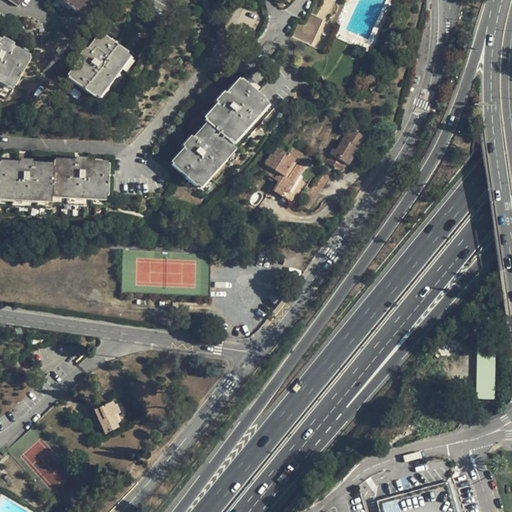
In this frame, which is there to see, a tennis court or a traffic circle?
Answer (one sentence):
Of the two, only a tennis court appears.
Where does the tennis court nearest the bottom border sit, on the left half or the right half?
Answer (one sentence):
You can find the tennis court nearest the bottom border on the left side of the picture.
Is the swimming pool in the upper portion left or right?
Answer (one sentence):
The swimming pool in the upper portion appears in the right half of the scene.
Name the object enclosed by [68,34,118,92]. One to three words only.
building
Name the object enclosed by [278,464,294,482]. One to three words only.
vehicle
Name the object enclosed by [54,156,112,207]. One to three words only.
building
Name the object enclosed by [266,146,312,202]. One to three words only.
house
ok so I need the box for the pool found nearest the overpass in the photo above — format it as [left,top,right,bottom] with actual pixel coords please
[336,0,386,48]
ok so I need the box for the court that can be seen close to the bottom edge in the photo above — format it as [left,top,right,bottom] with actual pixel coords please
[8,426,92,510]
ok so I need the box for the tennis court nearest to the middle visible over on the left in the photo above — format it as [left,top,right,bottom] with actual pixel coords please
[121,248,210,297]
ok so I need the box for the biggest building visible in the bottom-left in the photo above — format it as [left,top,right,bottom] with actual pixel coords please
[94,401,122,434]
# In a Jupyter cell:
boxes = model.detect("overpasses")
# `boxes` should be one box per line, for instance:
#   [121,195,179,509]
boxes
[474,0,512,365]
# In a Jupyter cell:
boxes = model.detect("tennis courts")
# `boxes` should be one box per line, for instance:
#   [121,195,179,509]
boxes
[121,248,210,297]
[8,426,92,510]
